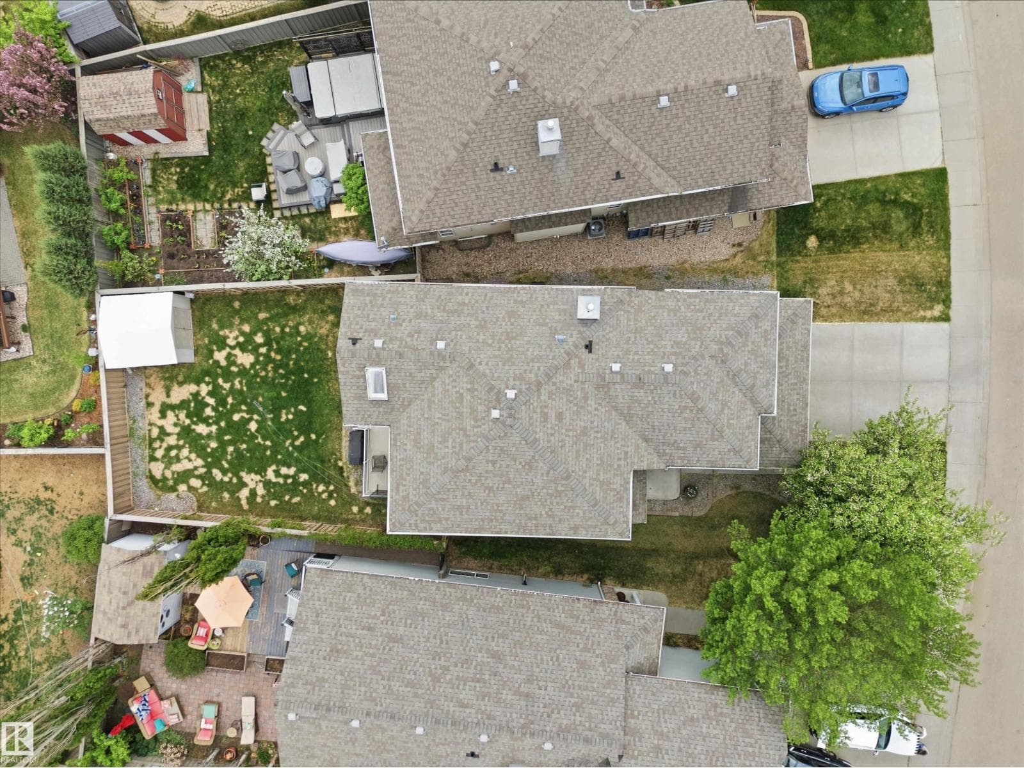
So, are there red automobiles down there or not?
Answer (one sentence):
No, there's no red automobile here.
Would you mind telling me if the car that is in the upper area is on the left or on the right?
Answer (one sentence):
The car that is in the upper area is on the right side of the image.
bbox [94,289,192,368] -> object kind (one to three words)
shed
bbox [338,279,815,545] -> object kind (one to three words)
house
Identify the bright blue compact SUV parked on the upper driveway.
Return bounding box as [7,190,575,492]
[807,59,913,117]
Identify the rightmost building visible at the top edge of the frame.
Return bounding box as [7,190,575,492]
[359,0,817,253]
